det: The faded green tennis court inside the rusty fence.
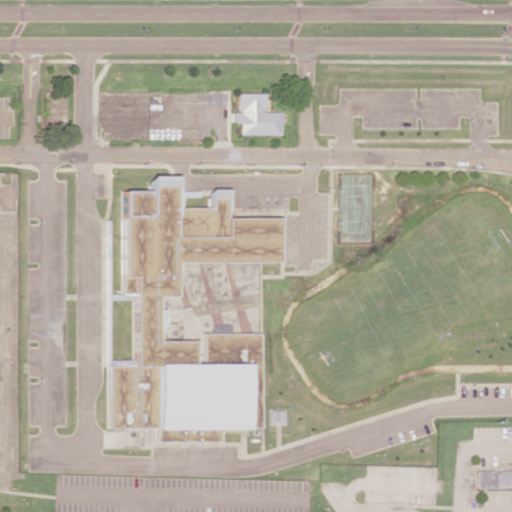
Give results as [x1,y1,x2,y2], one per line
[340,174,372,242]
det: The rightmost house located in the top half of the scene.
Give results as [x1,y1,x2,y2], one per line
[235,94,286,137]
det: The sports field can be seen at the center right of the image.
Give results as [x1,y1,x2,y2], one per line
[288,192,512,402]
